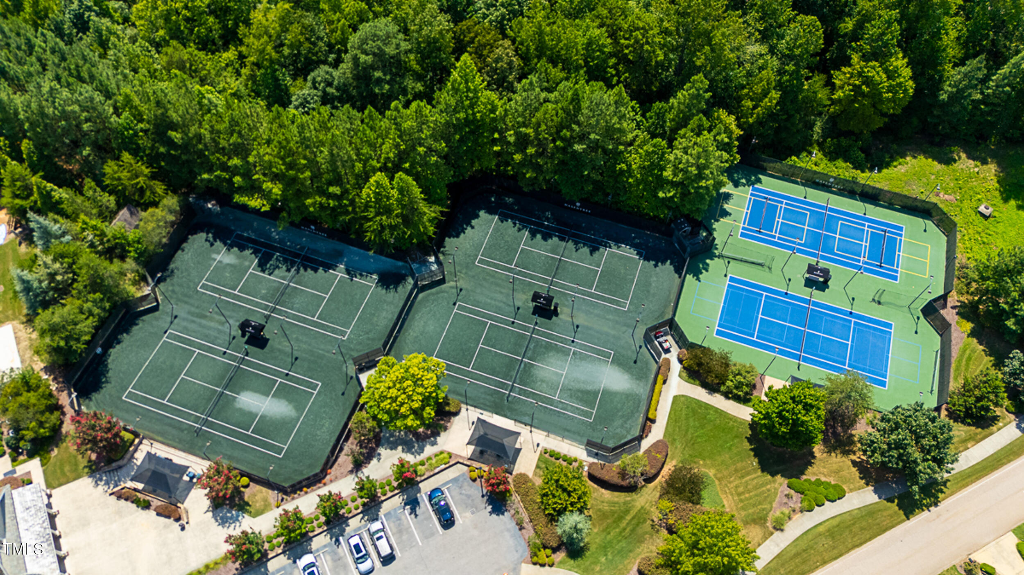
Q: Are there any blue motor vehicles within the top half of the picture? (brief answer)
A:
No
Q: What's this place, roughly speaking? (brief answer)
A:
sports ground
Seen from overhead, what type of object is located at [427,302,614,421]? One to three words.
tennis court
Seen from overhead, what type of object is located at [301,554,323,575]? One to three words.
car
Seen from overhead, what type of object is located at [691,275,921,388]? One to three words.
tennis court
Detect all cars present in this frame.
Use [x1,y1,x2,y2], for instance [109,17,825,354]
[348,536,374,575]
[301,554,323,575]
[431,489,455,528]
[371,520,396,561]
